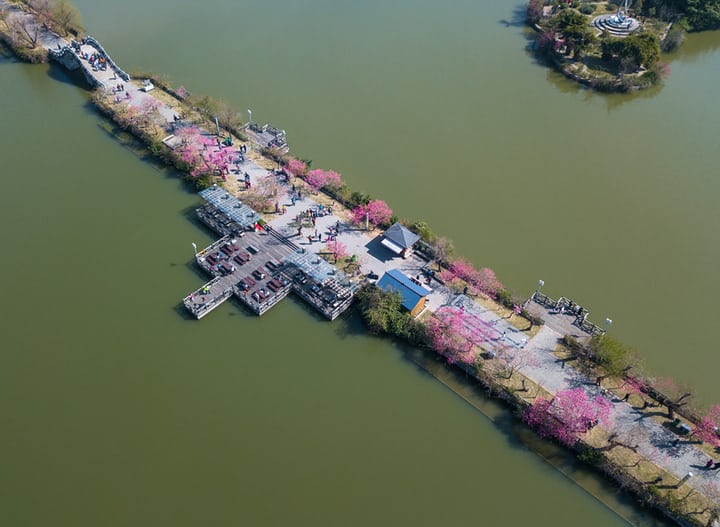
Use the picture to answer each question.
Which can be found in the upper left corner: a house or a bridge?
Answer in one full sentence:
Visible in the upper left corner is a bridge.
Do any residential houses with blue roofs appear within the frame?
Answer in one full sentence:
Yes, there is a residential house with a blue roof in the image.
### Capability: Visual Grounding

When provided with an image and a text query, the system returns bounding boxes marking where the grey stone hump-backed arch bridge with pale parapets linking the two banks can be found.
[46,39,134,91]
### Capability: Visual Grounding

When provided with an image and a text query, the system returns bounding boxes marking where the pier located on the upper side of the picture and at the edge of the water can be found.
[234,122,288,157]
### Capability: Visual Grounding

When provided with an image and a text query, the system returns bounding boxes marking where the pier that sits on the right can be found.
[522,291,605,351]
